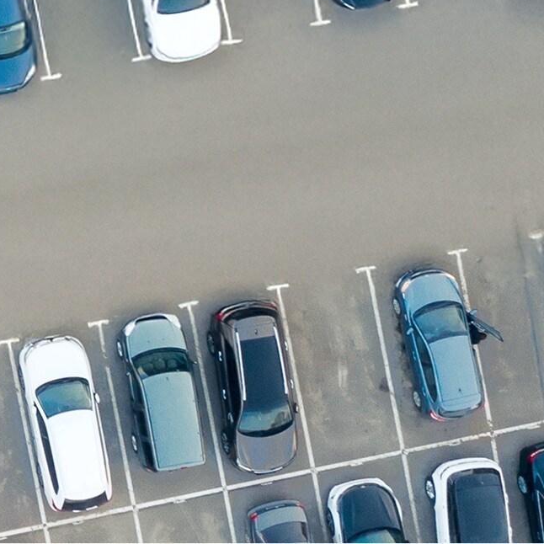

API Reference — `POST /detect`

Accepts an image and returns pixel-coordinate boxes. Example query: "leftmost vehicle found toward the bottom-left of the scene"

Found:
[19,334,114,517]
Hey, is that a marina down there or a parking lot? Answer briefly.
parking lot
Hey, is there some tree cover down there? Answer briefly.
No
